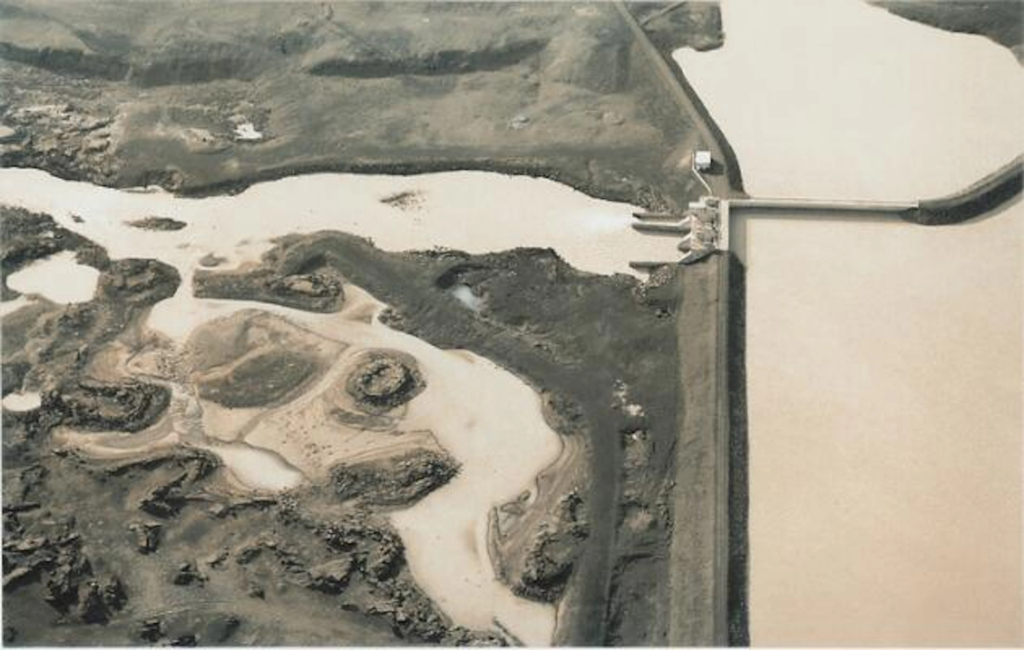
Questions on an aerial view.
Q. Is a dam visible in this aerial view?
Yes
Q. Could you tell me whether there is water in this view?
Yes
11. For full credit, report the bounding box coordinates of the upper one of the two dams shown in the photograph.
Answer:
[609,0,752,212]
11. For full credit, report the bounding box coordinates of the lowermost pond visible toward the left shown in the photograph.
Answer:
[208,444,303,490]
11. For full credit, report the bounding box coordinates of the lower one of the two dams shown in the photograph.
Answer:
[664,247,755,650]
